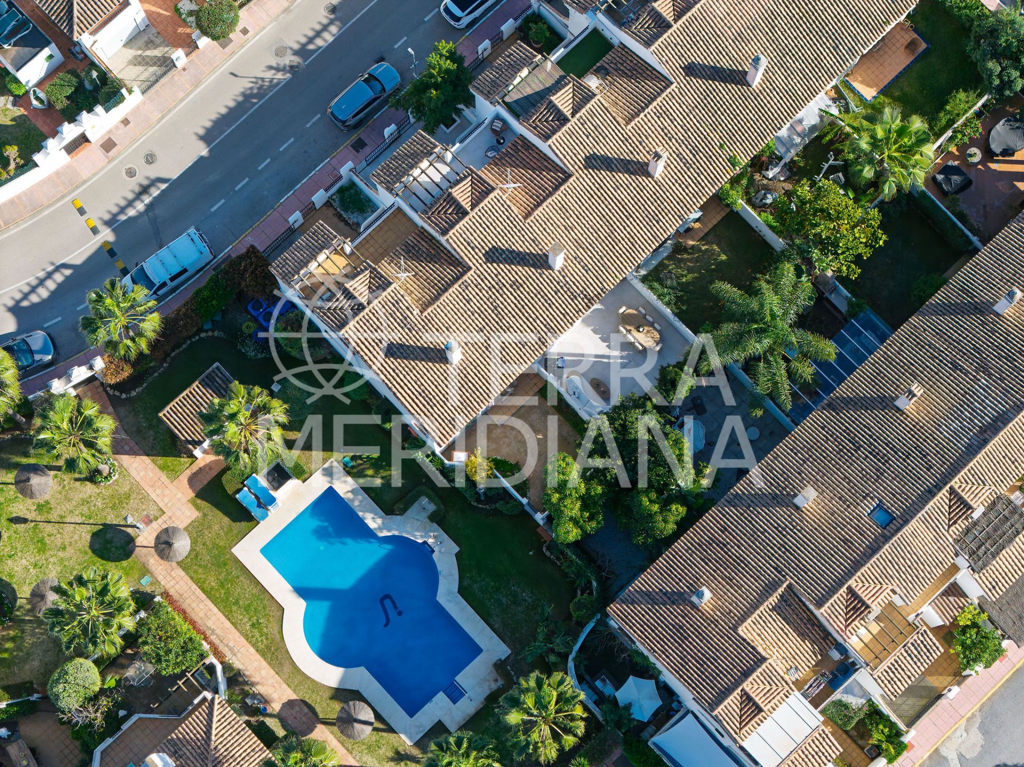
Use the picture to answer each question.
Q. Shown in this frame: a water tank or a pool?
pool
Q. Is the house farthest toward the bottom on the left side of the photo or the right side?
left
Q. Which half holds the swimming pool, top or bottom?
bottom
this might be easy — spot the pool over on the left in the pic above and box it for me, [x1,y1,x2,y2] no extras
[261,487,483,718]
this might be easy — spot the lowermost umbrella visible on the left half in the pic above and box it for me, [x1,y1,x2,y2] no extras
[336,700,375,741]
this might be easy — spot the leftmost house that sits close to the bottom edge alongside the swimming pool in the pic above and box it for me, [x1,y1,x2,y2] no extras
[93,656,284,767]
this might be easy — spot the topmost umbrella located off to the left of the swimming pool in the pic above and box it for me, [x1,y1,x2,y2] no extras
[15,463,52,501]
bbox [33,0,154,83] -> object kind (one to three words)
house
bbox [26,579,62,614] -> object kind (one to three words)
umbrella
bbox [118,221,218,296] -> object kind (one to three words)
van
